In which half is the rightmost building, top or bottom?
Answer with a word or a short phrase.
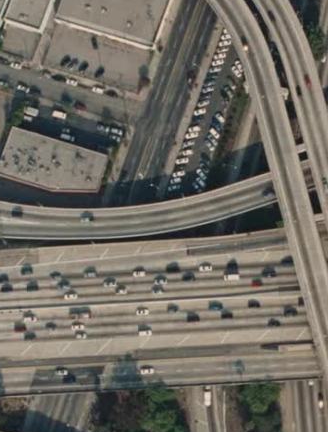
top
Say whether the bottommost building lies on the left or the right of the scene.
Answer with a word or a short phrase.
left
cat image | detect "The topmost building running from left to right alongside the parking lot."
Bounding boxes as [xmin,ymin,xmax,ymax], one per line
[55,0,172,48]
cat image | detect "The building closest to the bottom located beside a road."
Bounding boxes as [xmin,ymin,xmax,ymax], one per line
[0,127,109,192]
